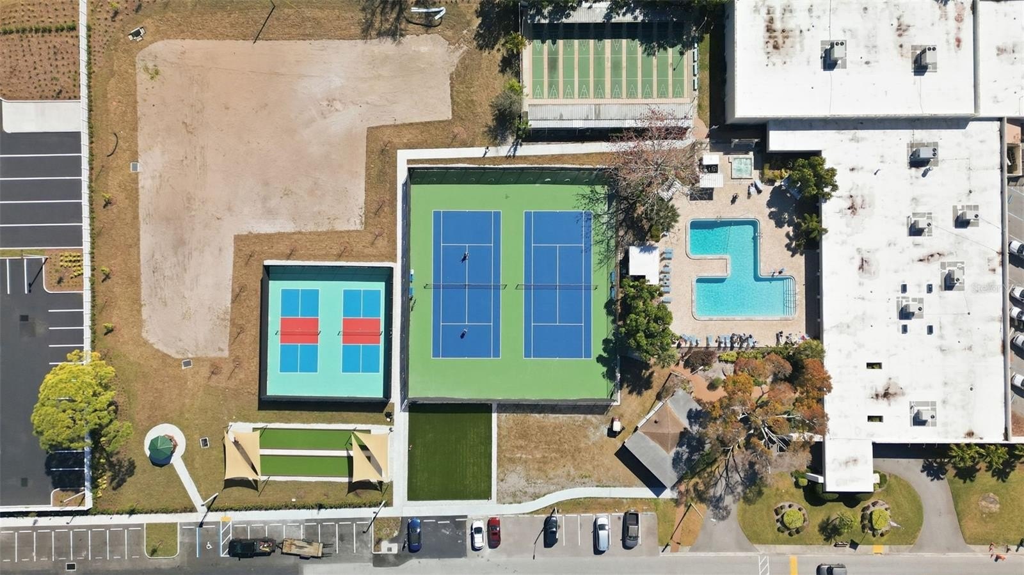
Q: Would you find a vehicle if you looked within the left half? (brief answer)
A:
Yes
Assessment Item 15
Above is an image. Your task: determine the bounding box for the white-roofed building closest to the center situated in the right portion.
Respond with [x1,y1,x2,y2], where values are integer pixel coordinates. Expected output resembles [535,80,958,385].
[629,247,659,284]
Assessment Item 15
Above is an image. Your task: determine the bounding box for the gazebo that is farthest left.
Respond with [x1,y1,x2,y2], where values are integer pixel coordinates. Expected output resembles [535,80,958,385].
[148,433,182,462]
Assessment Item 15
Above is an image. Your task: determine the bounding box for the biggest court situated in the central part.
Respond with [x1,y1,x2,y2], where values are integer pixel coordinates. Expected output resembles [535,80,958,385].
[409,169,618,399]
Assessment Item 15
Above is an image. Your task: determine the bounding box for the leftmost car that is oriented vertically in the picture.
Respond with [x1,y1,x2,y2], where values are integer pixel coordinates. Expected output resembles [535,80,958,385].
[408,518,422,548]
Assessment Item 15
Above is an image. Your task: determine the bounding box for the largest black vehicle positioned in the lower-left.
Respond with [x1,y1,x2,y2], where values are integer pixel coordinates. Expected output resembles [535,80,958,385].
[230,539,273,556]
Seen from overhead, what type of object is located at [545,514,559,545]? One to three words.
car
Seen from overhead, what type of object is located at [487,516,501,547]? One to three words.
car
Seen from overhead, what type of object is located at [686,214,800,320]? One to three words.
swimming pool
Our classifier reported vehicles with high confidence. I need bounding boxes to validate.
[487,516,501,547]
[1009,335,1024,351]
[1009,287,1024,303]
[1008,243,1024,259]
[815,563,847,575]
[471,519,485,549]
[624,510,640,546]
[408,518,422,548]
[230,539,273,556]
[545,514,559,545]
[1010,376,1024,392]
[611,416,620,433]
[1009,308,1024,324]
[596,514,610,548]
